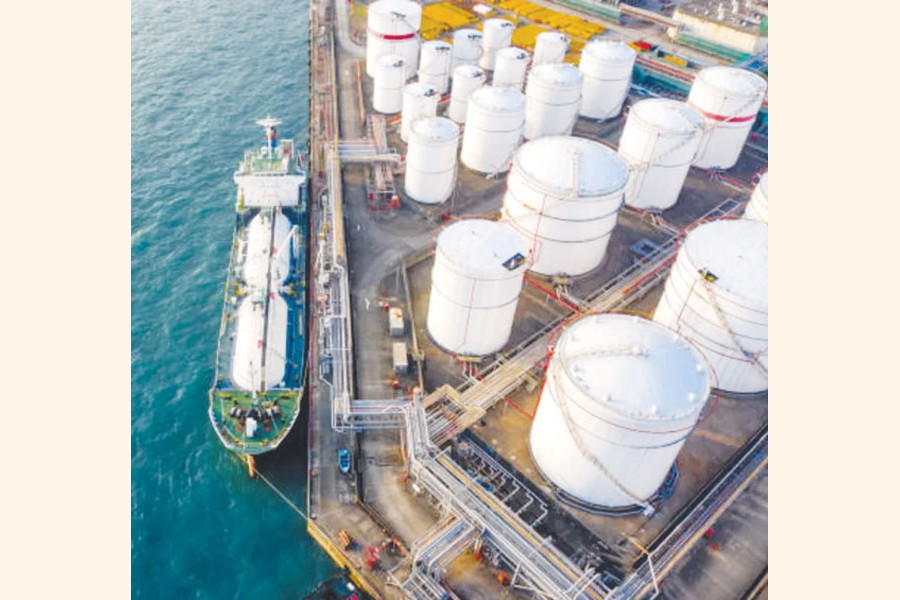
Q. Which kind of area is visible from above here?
industrial area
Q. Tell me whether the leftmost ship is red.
No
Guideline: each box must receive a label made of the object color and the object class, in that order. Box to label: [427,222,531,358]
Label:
white storage tank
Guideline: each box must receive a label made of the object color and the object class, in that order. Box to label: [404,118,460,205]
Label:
white storage tank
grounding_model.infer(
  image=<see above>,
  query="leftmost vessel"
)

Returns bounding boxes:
[209,111,309,478]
